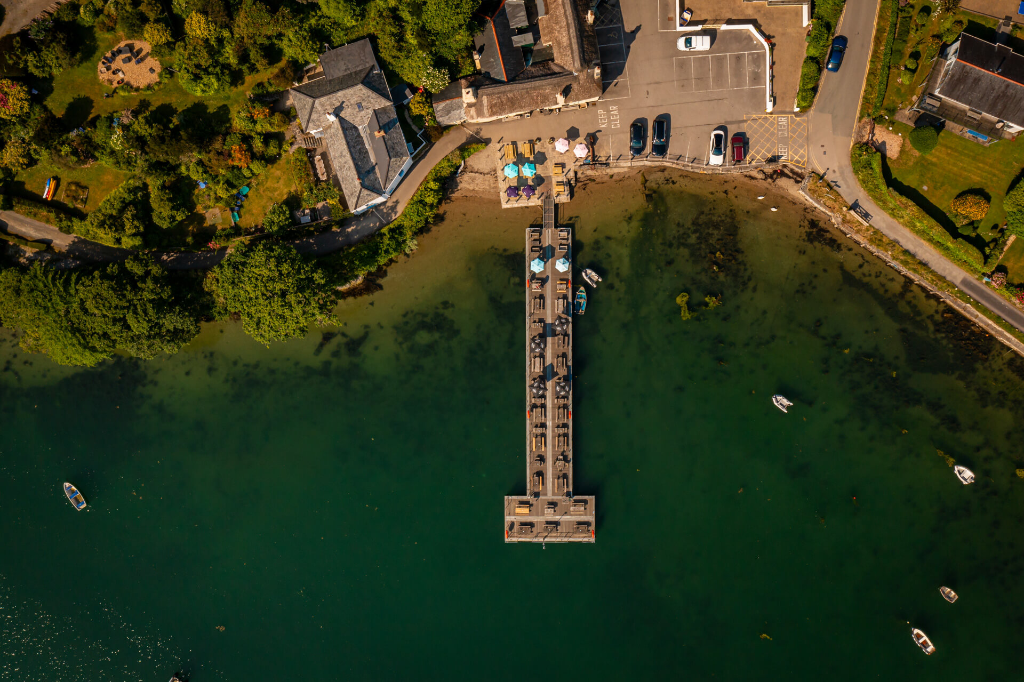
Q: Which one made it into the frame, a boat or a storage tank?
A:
boat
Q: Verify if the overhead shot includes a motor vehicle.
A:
Yes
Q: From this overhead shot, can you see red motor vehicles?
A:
Yes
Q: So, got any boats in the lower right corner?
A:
Yes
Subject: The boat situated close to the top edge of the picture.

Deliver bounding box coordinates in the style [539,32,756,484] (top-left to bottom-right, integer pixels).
[680,6,693,26]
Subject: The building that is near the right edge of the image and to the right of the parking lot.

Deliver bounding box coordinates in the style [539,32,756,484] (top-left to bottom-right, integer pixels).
[935,32,1024,133]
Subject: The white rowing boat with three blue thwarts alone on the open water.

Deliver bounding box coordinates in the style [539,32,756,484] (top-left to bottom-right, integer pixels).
[63,484,86,512]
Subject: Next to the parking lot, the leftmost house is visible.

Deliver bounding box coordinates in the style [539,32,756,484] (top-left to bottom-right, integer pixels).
[289,37,411,215]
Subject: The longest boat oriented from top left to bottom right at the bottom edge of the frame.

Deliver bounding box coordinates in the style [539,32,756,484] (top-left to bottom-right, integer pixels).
[914,630,937,657]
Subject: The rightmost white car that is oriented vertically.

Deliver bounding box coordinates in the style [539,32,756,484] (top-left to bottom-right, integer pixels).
[709,129,726,166]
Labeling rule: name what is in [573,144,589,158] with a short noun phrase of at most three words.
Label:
umbrella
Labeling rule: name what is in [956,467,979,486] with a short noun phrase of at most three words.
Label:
boat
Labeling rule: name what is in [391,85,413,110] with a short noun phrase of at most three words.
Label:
shed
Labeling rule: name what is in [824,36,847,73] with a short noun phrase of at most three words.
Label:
car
